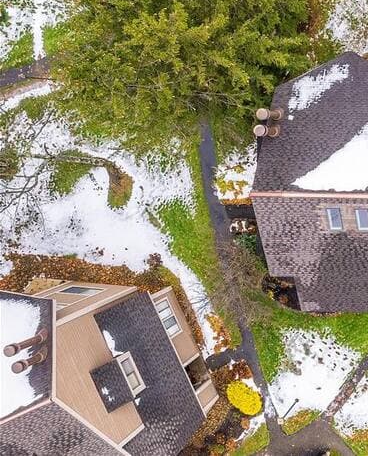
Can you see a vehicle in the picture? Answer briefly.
No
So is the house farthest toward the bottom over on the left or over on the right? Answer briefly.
left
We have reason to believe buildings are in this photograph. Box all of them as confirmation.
[251,52,368,312]
[0,280,222,456]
